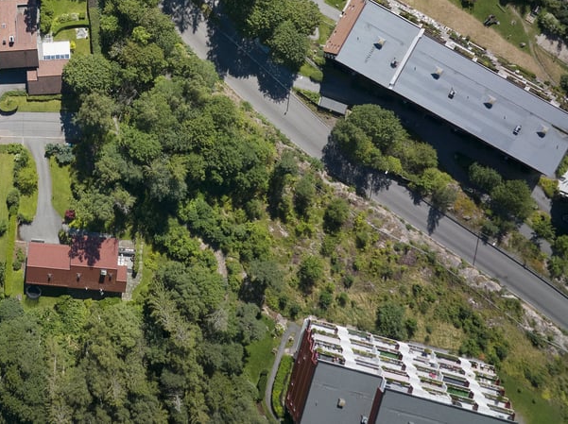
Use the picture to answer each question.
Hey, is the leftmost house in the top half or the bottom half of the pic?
top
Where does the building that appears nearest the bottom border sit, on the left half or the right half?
right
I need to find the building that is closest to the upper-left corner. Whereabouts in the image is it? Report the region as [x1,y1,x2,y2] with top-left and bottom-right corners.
[0,0,39,69]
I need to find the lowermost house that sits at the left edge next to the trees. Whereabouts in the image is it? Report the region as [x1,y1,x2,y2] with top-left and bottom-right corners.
[25,231,127,292]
